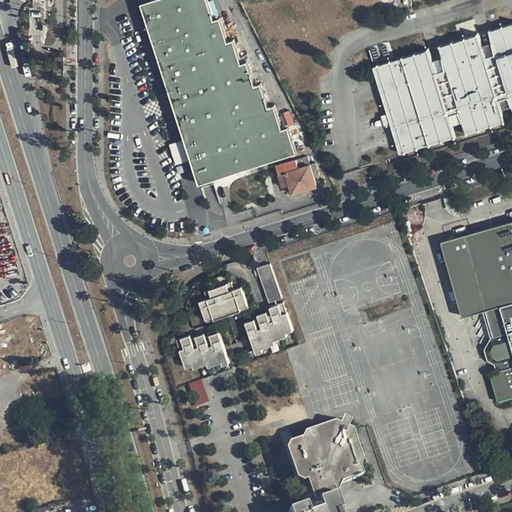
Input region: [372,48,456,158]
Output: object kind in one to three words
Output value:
building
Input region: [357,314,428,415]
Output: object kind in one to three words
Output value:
sports court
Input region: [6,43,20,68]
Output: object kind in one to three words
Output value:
vehicle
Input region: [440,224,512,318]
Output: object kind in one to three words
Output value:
building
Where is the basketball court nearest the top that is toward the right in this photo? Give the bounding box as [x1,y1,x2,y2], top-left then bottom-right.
[335,262,400,308]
